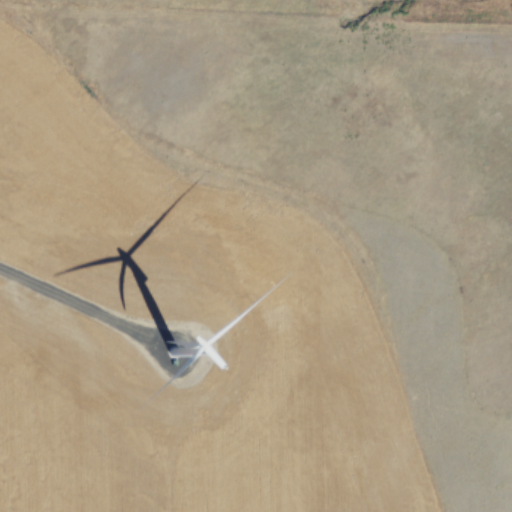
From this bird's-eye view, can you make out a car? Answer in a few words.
No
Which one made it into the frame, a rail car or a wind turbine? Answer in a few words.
wind turbine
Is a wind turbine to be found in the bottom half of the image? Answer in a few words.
Yes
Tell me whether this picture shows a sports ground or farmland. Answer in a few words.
farmland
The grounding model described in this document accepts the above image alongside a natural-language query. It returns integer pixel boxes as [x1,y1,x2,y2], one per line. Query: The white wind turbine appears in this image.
[148,276,290,406]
